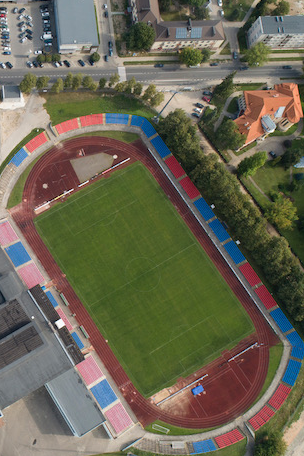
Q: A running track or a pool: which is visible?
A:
running track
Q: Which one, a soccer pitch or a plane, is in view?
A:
soccer pitch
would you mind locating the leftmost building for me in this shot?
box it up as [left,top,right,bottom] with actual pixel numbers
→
[1,85,23,103]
